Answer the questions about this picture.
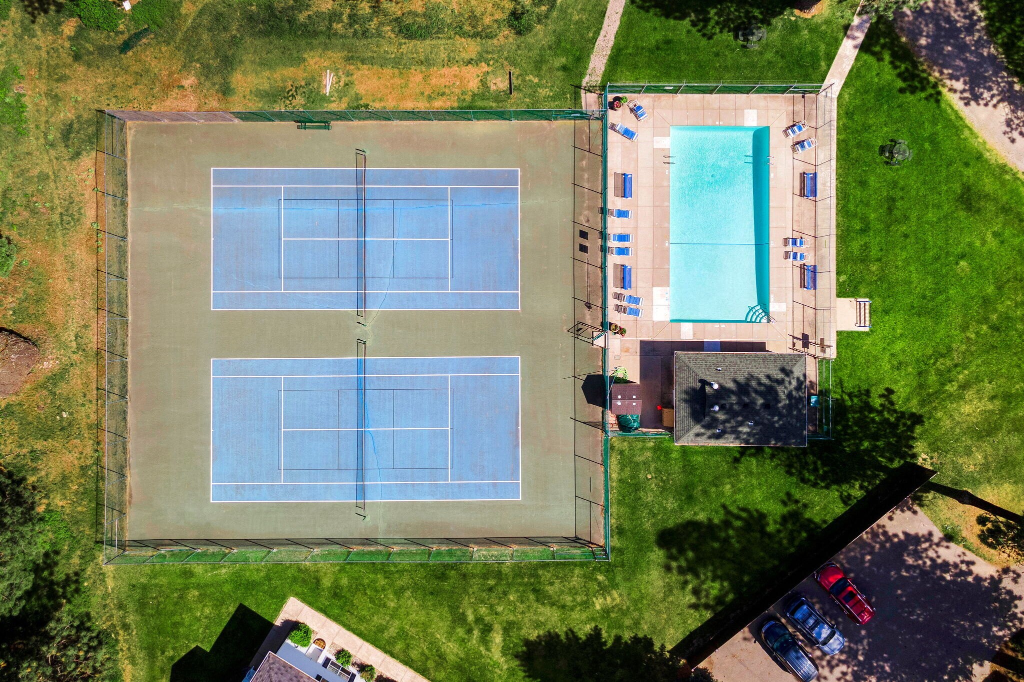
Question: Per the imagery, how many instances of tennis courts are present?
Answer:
2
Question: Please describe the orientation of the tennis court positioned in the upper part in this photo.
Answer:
from side to side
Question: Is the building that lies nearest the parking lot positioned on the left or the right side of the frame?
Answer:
right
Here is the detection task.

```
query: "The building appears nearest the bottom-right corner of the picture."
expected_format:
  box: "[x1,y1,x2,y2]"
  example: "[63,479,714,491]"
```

[673,351,808,447]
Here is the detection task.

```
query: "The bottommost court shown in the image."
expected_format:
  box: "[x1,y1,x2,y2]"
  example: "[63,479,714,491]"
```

[211,344,521,535]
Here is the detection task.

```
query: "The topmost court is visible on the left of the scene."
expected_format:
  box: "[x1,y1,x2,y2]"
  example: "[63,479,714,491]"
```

[128,168,570,339]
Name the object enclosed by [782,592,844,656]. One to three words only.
car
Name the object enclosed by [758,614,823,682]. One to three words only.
car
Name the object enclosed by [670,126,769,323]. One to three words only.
swimming pool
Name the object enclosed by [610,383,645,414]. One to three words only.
shed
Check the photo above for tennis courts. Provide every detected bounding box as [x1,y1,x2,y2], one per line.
[211,344,521,535]
[128,168,570,339]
